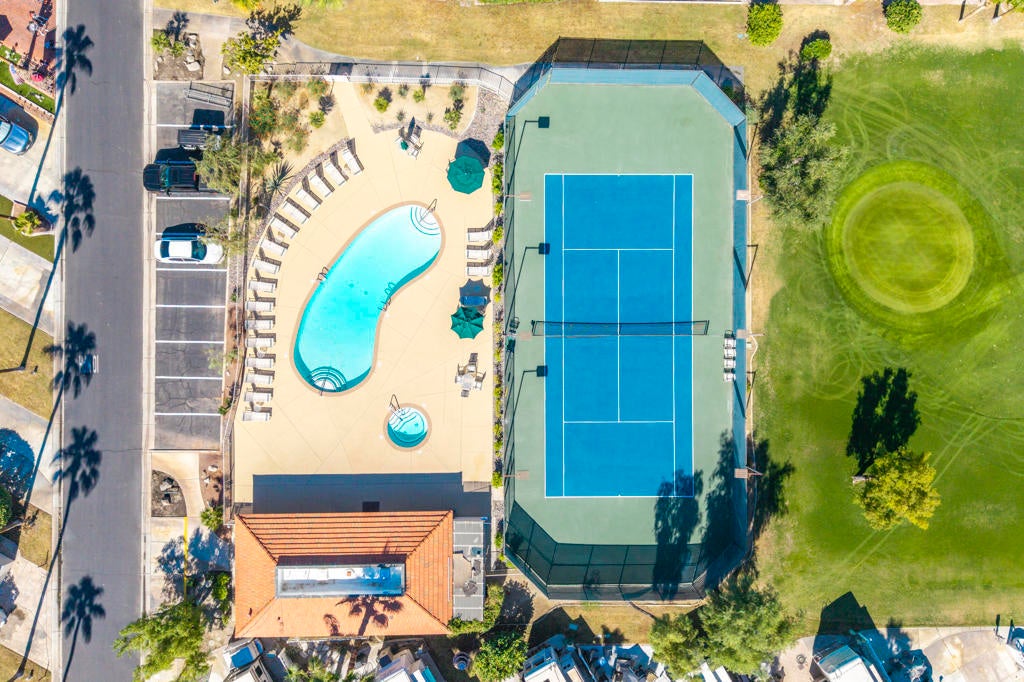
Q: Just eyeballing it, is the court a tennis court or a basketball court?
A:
tennis court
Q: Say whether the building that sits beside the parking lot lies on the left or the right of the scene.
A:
left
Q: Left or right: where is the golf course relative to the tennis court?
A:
on its right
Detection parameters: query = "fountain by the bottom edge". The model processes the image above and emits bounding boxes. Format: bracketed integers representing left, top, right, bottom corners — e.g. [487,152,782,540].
[454,646,473,666]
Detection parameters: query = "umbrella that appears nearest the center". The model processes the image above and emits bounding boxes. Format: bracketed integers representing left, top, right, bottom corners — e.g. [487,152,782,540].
[451,304,485,339]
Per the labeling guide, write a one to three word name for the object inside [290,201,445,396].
swimming pool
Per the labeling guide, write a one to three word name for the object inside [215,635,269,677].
car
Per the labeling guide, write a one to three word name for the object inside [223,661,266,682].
vehicle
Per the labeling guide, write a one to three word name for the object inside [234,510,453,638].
building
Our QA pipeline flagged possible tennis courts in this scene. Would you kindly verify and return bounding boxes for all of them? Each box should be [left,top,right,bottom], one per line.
[506,84,734,584]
